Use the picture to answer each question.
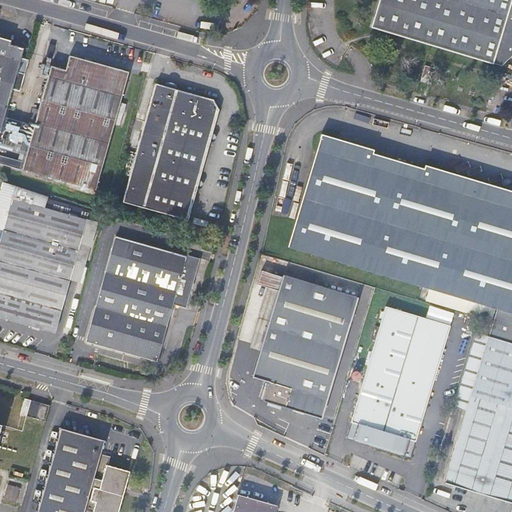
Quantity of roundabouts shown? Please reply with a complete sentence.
In total, there are 2 roundabouts in the scene.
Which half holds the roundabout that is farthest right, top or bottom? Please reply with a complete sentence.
You can find the roundabout that is farthest right in the top half.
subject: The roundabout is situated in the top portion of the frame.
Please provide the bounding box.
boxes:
[228,20,328,124]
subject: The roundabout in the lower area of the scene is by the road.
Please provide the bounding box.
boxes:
[142,370,254,468]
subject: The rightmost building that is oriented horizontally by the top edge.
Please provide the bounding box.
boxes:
[370,0,512,63]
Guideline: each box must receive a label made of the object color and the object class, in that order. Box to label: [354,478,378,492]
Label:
white vehicle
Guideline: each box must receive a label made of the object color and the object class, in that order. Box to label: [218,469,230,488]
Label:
white vehicle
